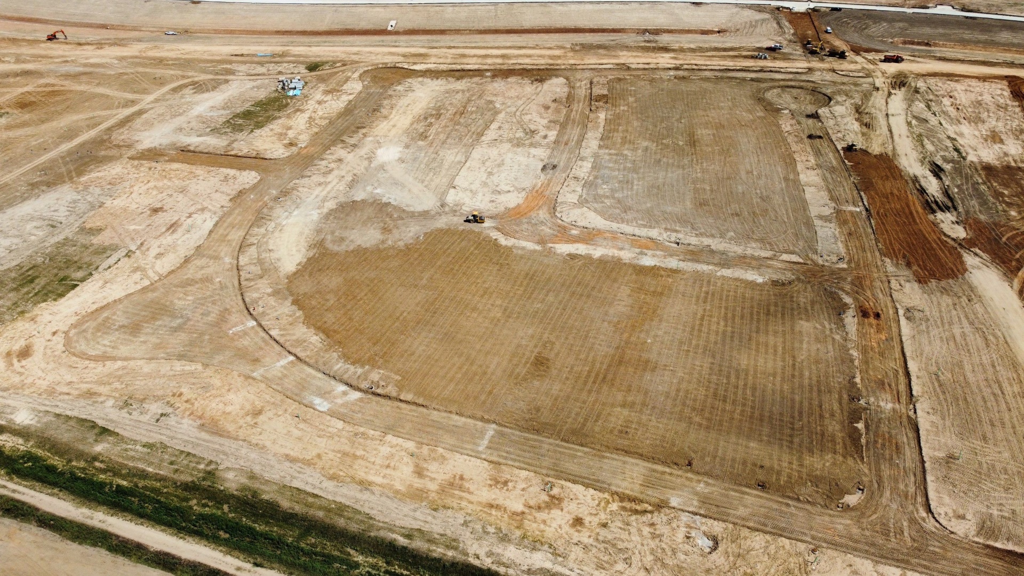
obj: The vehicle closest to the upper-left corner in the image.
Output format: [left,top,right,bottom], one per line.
[47,27,72,41]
